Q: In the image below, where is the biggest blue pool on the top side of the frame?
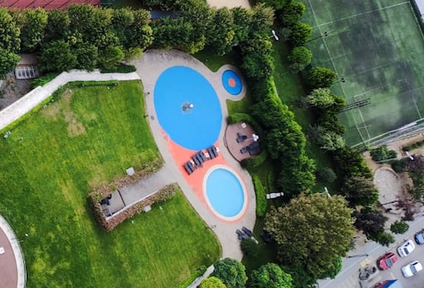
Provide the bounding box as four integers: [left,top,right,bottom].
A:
[153,66,223,150]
